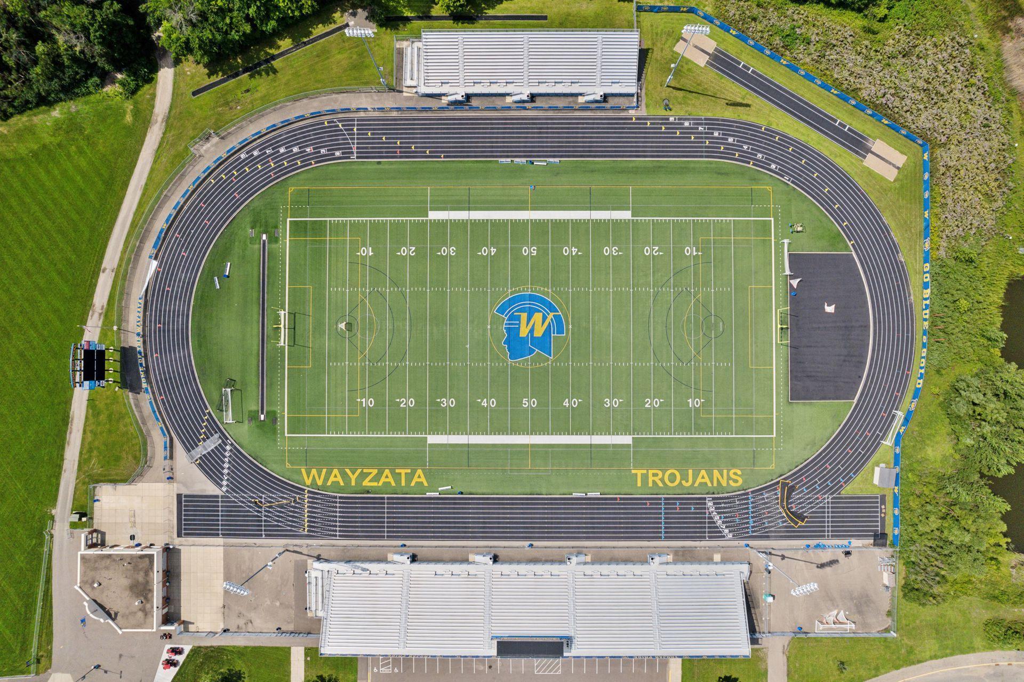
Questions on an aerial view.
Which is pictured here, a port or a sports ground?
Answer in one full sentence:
This looks like a sports ground.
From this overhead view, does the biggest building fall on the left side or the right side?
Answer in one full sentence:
It is on the left.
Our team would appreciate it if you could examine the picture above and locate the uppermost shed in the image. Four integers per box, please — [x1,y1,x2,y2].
[872,467,896,488]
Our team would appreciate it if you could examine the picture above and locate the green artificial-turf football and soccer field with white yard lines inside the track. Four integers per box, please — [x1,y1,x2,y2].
[192,162,869,494]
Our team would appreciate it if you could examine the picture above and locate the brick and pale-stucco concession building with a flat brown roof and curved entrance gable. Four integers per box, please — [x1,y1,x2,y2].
[75,547,168,634]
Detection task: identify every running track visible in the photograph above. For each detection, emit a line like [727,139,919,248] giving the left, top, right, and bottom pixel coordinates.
[145,116,917,542]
